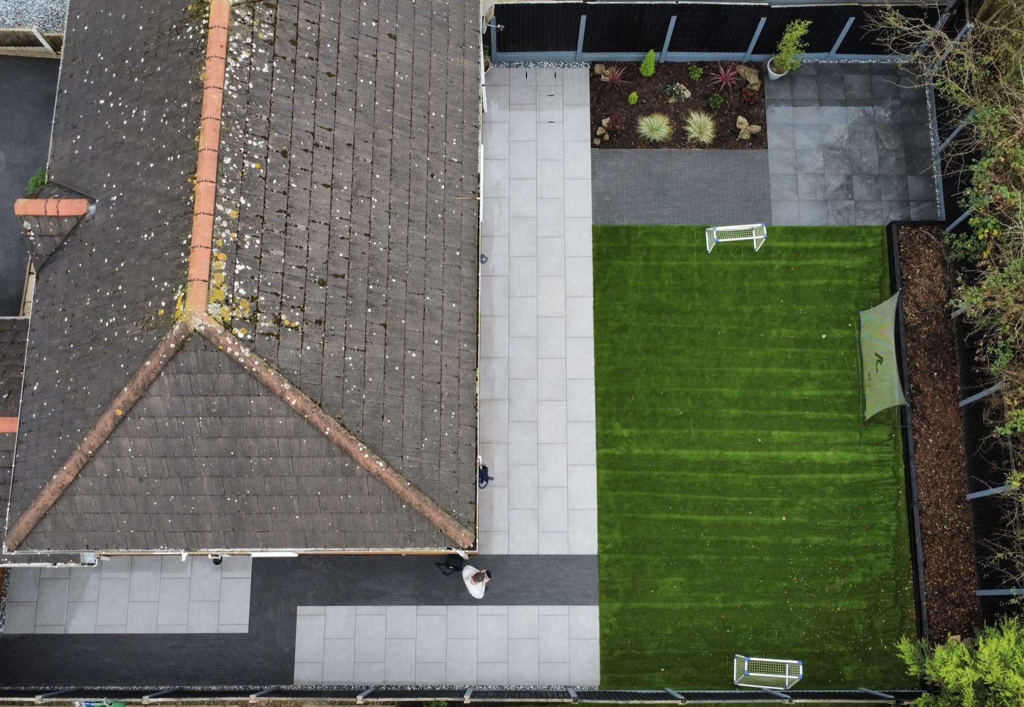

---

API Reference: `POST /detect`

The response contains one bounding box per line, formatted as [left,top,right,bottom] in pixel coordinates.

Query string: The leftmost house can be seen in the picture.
[0,0,489,565]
